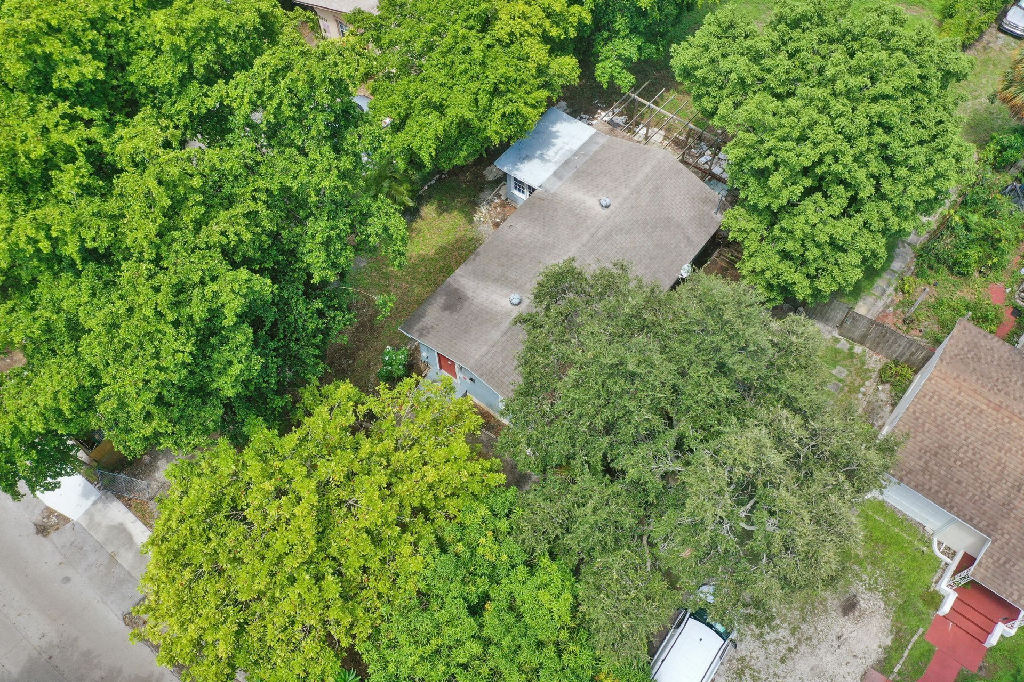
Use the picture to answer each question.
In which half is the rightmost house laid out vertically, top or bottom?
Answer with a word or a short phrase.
bottom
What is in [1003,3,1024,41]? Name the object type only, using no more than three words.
truck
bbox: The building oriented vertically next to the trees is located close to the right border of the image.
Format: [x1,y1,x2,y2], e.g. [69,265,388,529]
[867,318,1024,651]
